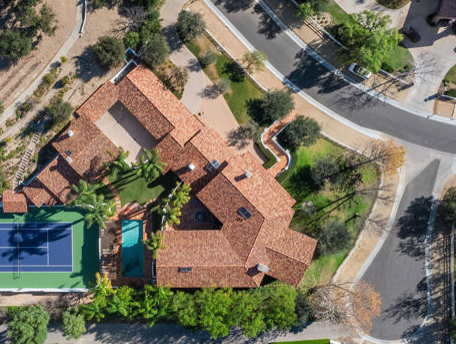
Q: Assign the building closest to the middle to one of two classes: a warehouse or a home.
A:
home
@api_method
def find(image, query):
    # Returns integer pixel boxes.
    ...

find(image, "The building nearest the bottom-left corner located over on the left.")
[2,190,29,213]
